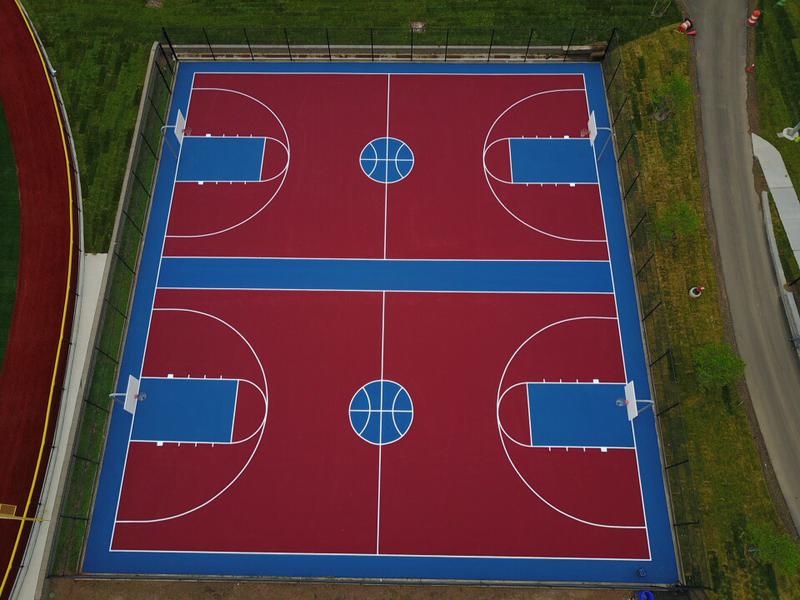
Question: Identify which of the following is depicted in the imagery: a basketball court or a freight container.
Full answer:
Looking from above, you can make out a basketball court.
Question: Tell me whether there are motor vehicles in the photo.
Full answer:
No, the frame has no motor vehicle in it.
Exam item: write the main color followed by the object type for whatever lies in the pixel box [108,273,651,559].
red basketball court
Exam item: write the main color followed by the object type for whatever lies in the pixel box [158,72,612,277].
red basketball court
